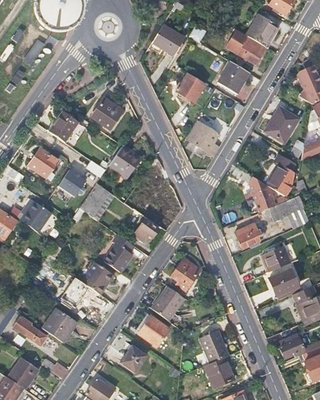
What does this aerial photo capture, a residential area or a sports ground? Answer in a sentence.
The area seen from above is a residential area.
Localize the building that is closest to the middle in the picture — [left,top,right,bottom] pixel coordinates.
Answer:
[134,218,162,245]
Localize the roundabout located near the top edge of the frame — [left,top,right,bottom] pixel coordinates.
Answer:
[94,12,123,41]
